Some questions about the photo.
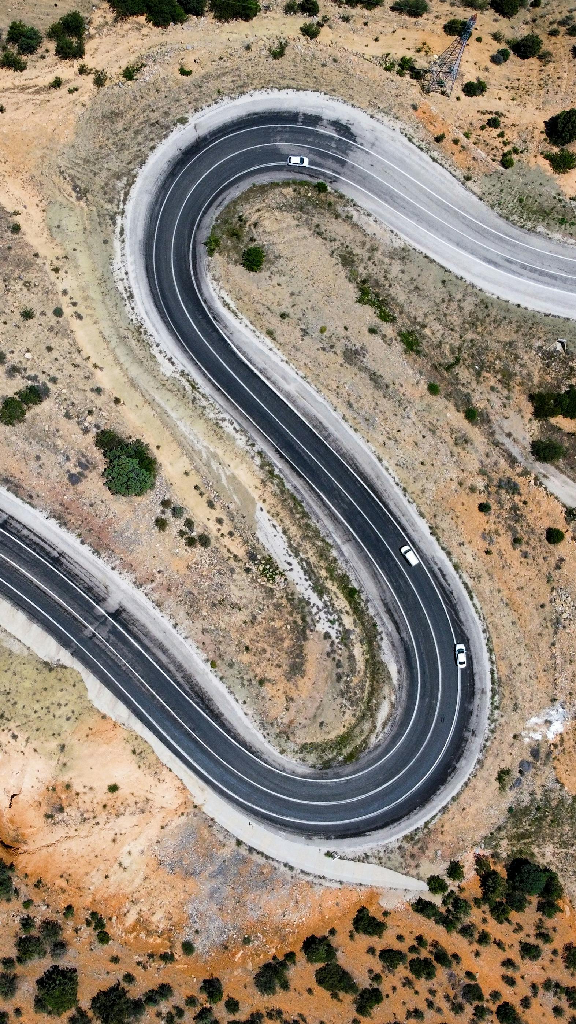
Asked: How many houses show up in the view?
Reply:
zero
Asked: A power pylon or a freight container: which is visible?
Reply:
power pylon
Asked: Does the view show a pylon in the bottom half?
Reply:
No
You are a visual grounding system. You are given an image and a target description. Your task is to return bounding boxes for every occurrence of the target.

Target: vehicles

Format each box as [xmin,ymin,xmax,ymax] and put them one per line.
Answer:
[400,543,418,567]
[454,643,466,668]
[286,155,308,166]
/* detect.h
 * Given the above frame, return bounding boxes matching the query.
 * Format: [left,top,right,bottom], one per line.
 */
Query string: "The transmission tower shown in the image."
[416,11,481,103]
